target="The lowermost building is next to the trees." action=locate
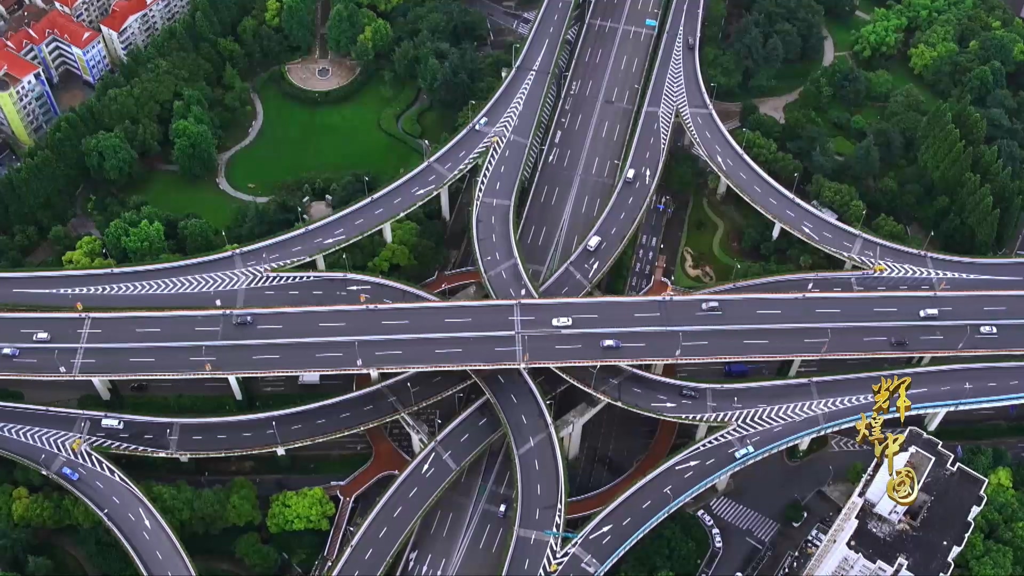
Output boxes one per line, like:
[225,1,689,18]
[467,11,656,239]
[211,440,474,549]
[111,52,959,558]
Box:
[809,425,990,576]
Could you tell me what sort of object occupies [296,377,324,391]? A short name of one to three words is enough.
vehicle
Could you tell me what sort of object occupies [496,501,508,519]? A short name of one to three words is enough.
vehicle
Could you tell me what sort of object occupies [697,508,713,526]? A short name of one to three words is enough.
car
